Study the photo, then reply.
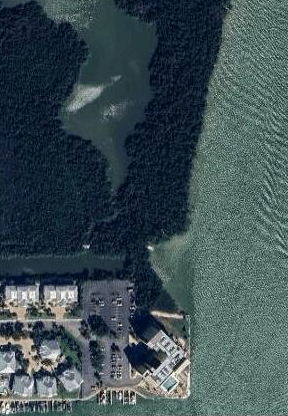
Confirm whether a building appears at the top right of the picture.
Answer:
No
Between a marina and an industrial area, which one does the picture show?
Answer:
marina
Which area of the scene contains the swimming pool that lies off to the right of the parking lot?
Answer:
bottom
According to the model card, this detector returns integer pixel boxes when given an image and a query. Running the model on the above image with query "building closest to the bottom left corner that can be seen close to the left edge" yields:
[10,373,33,395]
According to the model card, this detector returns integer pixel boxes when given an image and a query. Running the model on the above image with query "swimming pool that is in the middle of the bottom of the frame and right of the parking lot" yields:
[158,372,181,395]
